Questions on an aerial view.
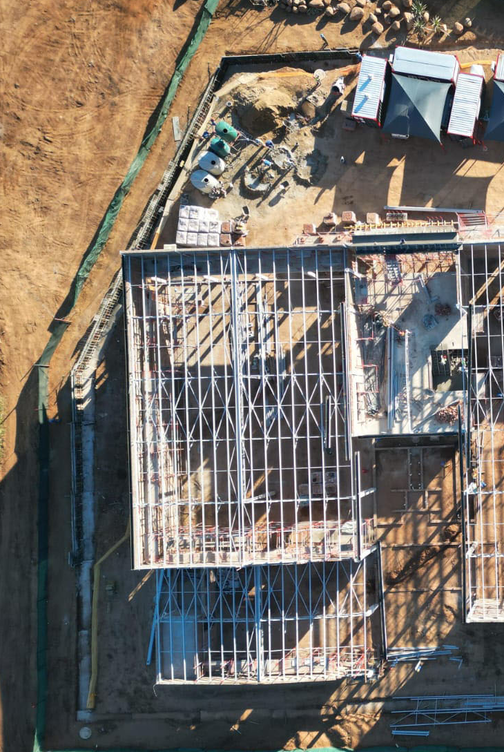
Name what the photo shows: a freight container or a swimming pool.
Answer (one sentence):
Of the two, only a freight container appears.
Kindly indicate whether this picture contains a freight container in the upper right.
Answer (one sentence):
Yes, you'll find a freight container in the upper right.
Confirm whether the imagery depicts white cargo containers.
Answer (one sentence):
Yes, a white cargo container appears in the view.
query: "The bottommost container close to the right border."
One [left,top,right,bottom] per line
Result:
[450,72,486,147]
